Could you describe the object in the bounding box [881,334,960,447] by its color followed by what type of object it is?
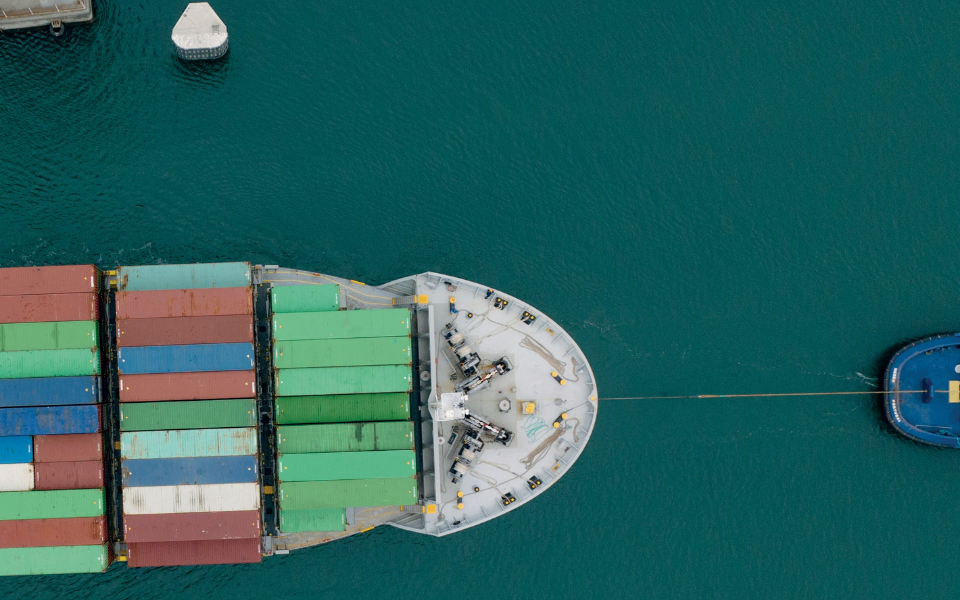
blue boat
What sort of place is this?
port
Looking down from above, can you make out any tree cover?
No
